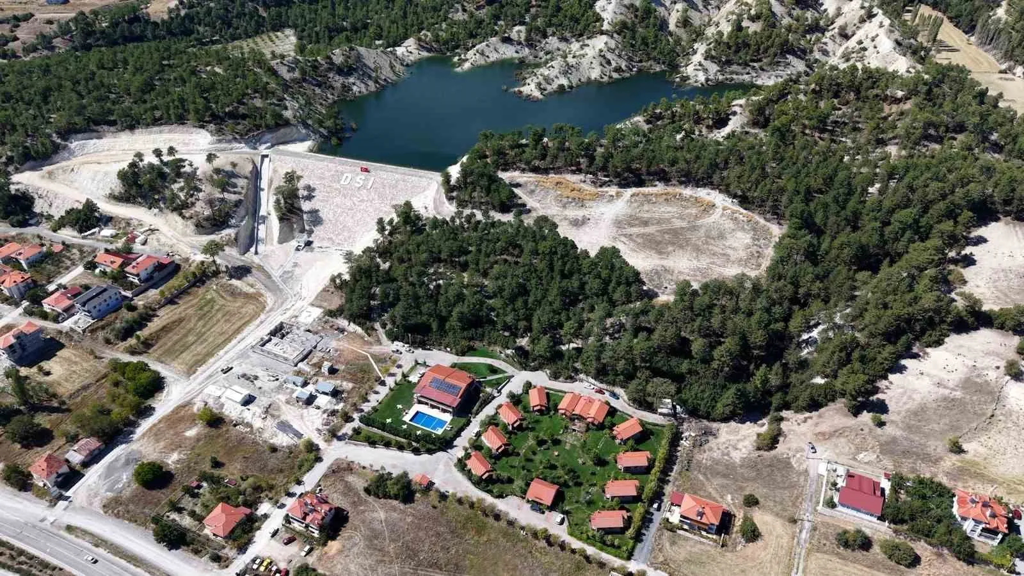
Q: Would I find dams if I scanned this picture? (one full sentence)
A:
Yes, a dam appears in the view.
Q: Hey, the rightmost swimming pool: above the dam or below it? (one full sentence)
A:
The position of the rightmost swimming pool is below the dam.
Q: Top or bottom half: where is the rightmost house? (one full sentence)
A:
You can find the rightmost house in the bottom half.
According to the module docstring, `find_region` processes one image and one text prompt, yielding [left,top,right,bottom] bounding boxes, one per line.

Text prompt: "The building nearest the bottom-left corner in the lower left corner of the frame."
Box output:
[33,457,74,495]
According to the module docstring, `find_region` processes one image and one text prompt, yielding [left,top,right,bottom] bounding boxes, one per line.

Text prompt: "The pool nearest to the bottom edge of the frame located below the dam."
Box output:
[405,402,452,436]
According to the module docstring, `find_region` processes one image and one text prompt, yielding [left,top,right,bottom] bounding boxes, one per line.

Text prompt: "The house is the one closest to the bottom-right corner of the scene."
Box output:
[951,477,1008,552]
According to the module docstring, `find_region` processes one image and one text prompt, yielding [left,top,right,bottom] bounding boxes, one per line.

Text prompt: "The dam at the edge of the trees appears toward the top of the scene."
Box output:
[270,154,438,250]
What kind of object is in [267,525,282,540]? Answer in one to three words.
car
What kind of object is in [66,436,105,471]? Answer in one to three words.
shed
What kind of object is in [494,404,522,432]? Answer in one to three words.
house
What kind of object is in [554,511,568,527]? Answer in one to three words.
vehicle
